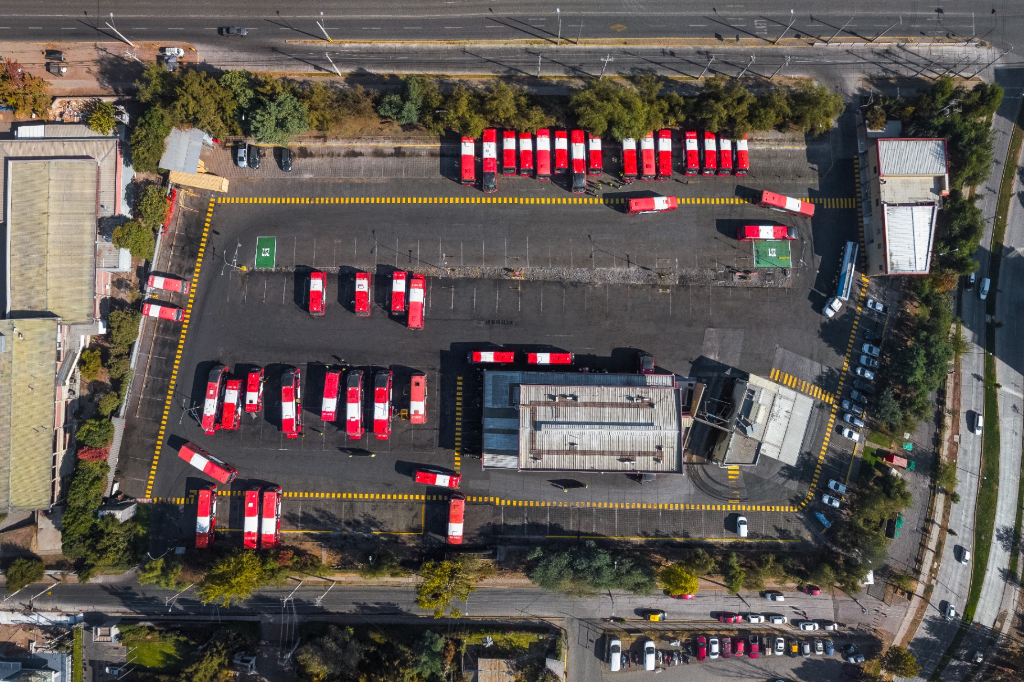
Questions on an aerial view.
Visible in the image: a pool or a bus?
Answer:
bus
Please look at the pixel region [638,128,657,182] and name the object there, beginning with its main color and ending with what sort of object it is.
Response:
red vehicle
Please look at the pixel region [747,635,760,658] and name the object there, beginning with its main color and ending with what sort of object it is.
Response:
red vehicle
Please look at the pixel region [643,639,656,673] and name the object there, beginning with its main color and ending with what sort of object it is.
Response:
white vehicle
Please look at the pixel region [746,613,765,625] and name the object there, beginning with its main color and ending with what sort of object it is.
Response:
white vehicle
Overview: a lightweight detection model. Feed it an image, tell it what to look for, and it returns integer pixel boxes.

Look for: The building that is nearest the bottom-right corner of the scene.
[715,373,817,467]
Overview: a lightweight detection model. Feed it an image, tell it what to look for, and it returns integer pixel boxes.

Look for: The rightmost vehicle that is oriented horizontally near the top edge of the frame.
[222,25,249,38]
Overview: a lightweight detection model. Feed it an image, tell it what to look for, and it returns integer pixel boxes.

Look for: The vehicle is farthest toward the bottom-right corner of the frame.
[968,647,986,666]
